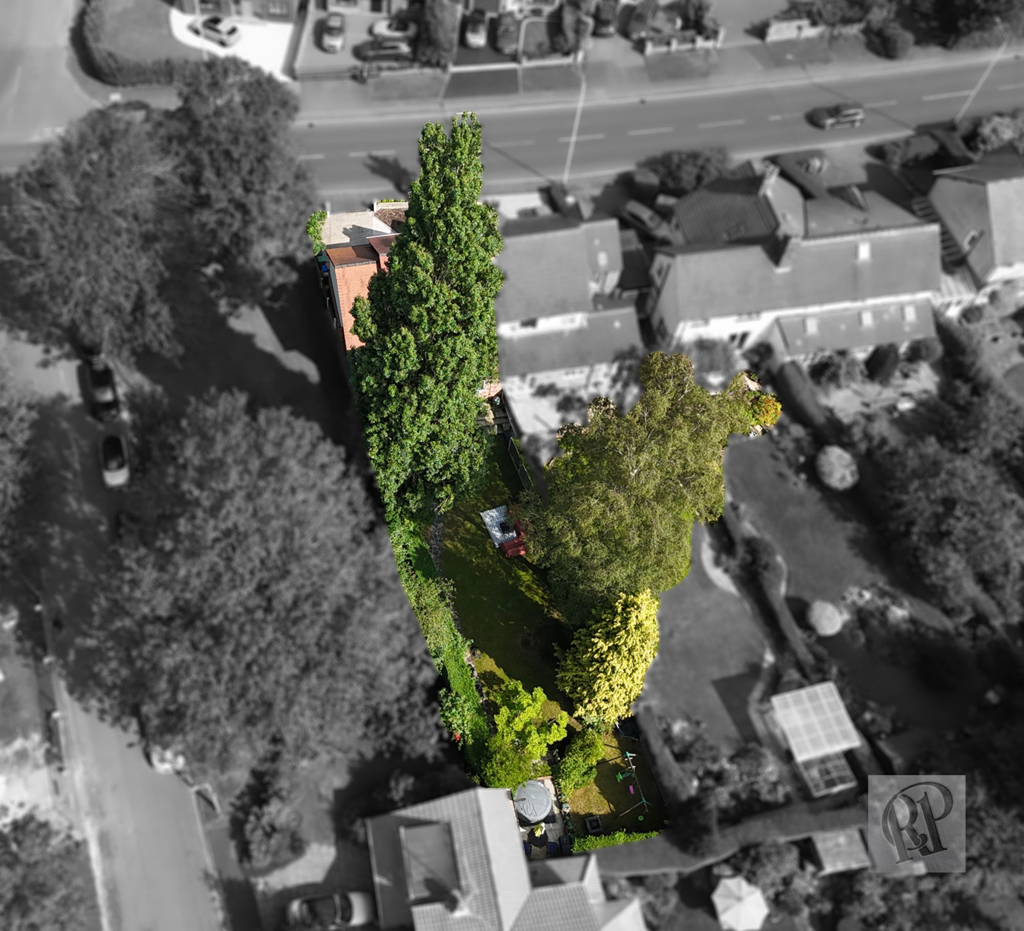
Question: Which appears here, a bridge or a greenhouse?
greenhouse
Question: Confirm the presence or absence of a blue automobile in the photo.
No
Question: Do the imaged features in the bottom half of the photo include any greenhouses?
Yes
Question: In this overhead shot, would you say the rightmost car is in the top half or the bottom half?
top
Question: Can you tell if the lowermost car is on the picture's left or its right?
left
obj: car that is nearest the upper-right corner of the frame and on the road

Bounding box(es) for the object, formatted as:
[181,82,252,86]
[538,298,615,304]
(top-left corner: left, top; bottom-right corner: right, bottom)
[811,98,867,130]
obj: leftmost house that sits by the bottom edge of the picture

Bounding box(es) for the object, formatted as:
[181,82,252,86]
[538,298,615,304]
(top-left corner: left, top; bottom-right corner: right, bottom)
[365,788,647,931]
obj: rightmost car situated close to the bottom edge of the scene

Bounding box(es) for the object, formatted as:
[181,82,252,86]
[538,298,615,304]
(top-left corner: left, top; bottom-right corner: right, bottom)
[288,890,376,931]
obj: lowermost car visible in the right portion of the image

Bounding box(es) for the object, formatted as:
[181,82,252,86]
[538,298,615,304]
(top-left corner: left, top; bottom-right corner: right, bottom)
[621,194,675,242]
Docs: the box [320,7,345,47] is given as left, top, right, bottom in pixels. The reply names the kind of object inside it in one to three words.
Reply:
car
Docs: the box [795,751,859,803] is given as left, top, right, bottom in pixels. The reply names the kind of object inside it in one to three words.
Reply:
greenhouse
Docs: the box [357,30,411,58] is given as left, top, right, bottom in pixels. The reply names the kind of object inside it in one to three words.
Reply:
car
